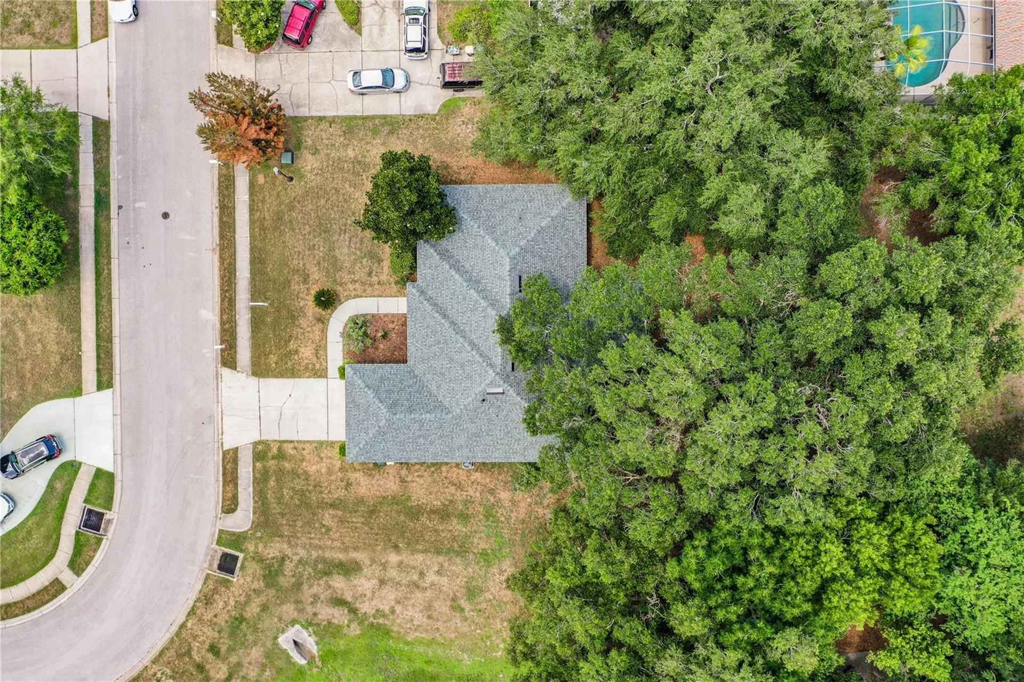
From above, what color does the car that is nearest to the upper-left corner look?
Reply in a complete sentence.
From above, the car that is nearest to the upper-left corner appears white.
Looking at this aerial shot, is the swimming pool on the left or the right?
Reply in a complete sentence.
The swimming pool appears in the right half of the scene.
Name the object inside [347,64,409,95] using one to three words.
car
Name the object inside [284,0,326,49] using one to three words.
car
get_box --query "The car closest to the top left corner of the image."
[110,0,139,23]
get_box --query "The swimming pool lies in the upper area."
[888,0,978,87]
